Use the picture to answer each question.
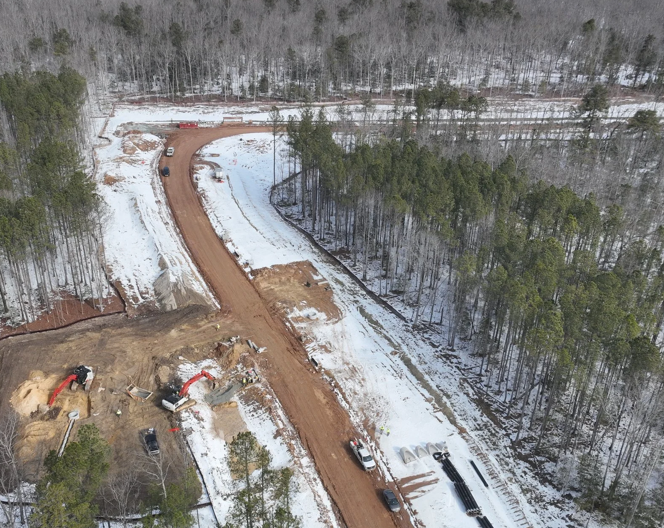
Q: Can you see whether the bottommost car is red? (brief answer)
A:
No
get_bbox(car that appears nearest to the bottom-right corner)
[383,488,403,513]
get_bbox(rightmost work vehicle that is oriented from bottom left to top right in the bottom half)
[168,370,221,415]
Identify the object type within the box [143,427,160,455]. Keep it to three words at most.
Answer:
vehicle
